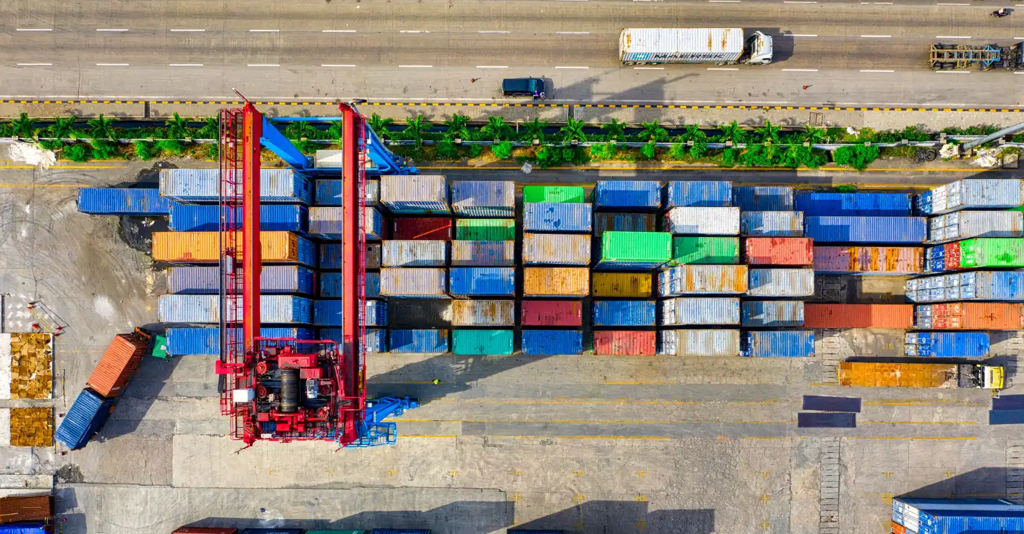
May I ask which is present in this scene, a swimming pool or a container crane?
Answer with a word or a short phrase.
container crane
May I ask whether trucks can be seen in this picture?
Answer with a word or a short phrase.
Yes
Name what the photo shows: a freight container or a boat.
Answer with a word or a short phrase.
freight container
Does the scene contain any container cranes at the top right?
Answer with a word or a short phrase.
No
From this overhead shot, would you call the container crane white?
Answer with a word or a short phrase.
No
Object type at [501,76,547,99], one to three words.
vehicle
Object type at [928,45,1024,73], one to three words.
truck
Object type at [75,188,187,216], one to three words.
shipping container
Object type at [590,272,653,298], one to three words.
shipping container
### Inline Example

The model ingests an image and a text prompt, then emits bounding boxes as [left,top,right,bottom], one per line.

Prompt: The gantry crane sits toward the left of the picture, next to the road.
[216,88,429,457]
